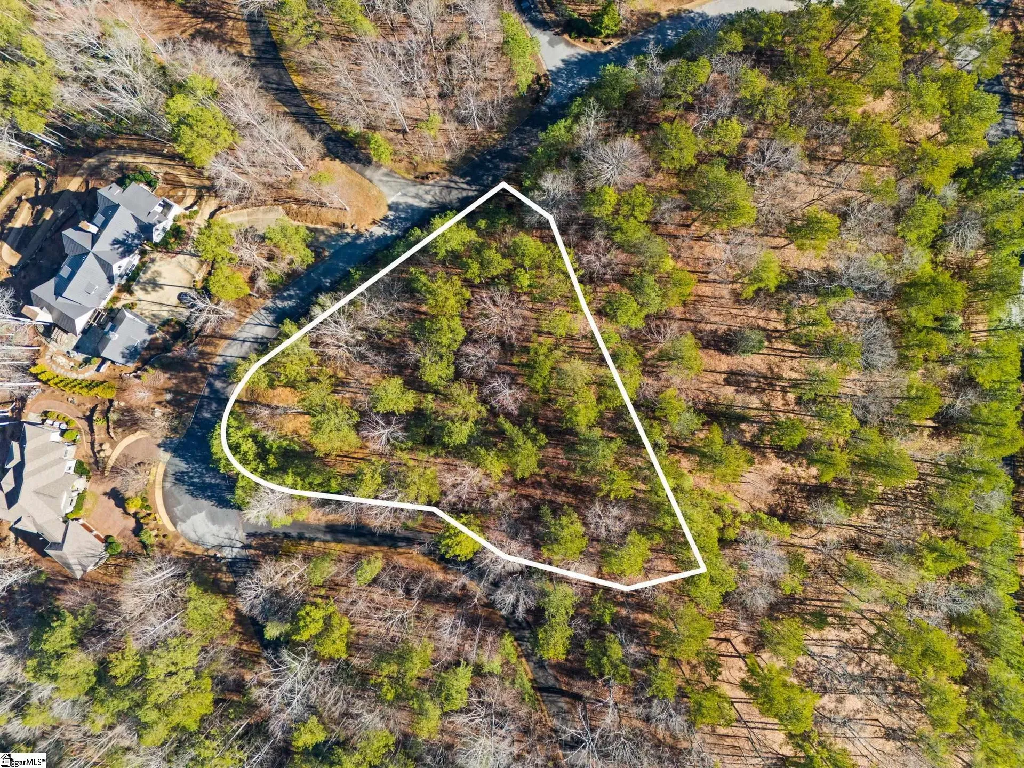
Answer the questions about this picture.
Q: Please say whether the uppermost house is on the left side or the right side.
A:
left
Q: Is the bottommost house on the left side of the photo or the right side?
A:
left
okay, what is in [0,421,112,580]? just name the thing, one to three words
house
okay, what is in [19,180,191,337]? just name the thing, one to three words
house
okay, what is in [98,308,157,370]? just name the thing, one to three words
building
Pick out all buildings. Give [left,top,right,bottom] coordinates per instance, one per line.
[0,421,112,580]
[98,308,157,370]
[19,180,191,337]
